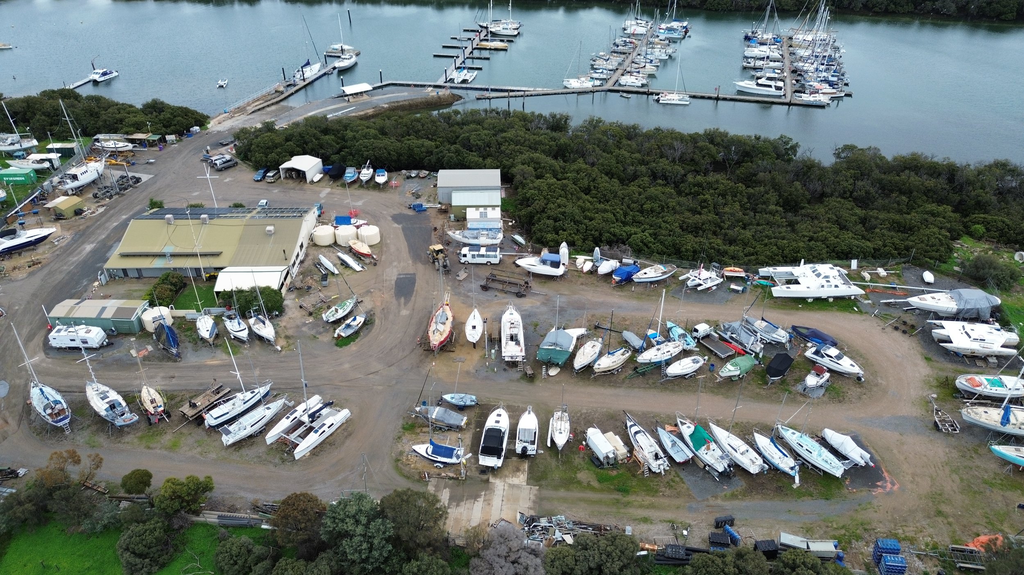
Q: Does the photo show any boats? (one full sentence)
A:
Yes, the photo shows a boat.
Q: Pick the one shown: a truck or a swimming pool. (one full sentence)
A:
I can see a truck in this picture.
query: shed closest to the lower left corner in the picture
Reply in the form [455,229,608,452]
[46,297,151,333]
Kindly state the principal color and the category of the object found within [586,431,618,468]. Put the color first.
white trailer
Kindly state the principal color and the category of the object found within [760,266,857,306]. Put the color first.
white boat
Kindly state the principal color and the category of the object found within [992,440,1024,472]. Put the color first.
white boat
